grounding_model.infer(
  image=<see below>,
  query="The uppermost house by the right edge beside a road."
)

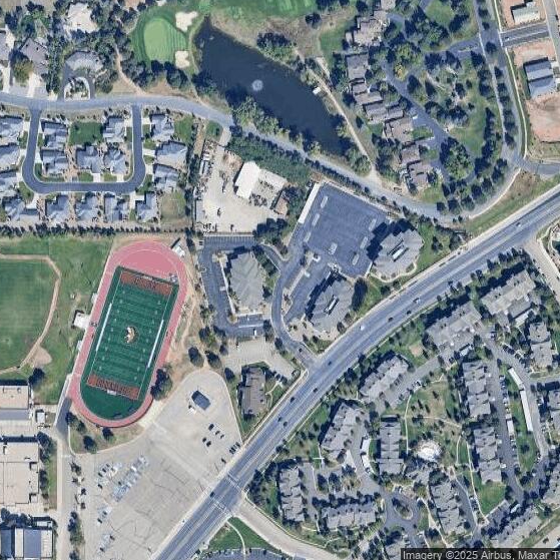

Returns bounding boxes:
[513,8,539,23]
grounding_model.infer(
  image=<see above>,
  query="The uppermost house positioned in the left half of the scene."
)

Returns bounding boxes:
[64,2,96,34]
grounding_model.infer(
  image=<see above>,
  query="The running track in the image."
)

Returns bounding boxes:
[69,240,187,427]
